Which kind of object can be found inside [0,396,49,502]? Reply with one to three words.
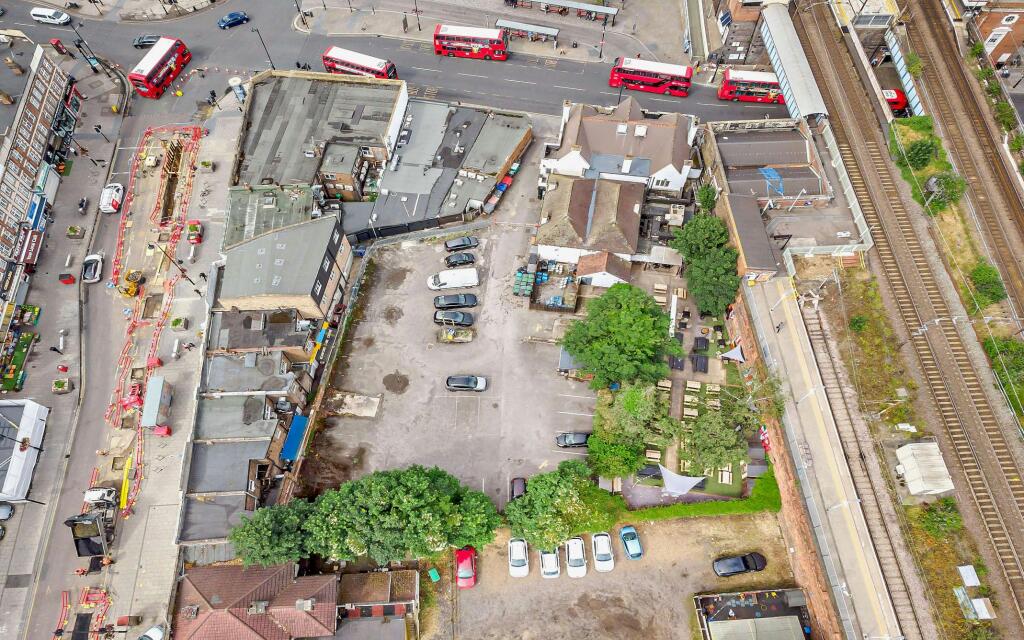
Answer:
building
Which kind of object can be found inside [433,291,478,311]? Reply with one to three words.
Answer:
car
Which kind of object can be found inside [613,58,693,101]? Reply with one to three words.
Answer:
bus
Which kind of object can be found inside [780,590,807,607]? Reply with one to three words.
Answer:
shed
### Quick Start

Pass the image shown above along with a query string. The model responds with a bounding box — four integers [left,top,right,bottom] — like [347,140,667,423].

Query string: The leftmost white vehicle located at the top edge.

[24,2,74,28]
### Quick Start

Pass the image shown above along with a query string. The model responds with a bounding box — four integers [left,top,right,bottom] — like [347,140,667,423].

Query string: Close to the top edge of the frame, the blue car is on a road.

[216,10,249,31]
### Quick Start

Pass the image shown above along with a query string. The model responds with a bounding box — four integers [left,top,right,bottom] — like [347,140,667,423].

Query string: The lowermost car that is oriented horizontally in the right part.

[711,551,769,580]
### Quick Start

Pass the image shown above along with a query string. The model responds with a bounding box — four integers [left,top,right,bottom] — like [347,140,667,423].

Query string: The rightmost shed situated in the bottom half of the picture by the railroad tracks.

[886,443,954,498]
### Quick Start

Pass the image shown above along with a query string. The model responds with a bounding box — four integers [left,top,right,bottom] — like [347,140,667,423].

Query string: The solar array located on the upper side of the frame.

[716,8,729,44]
